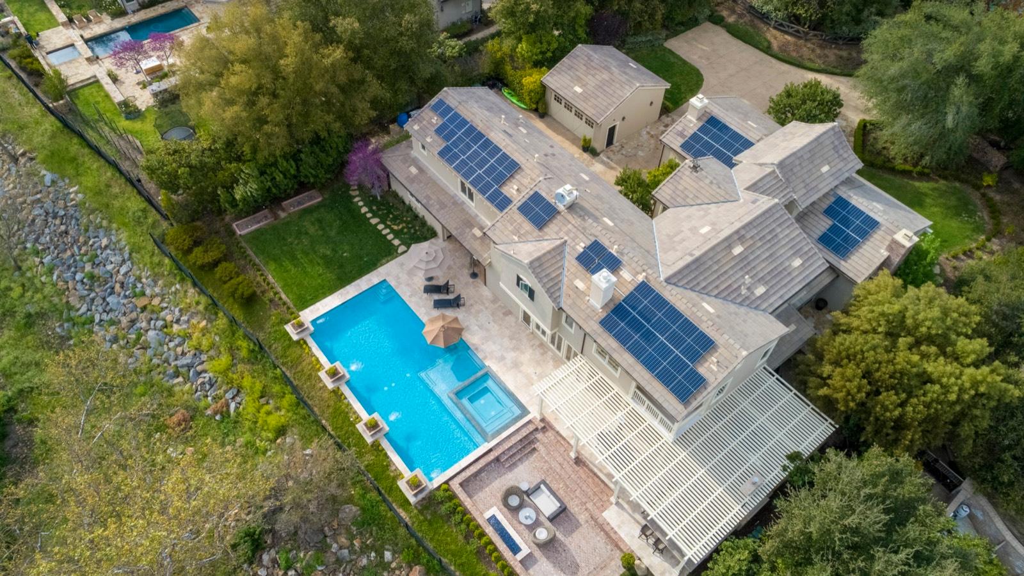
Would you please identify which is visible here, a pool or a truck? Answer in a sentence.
The one in the frame is a pool.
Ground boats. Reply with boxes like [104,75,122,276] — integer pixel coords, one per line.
[503,89,526,108]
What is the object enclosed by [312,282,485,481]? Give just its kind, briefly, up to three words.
swimming pool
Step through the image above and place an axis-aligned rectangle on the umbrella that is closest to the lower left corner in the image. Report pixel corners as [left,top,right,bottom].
[422,317,466,355]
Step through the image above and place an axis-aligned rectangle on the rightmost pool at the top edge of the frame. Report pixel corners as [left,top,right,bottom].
[85,4,204,58]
